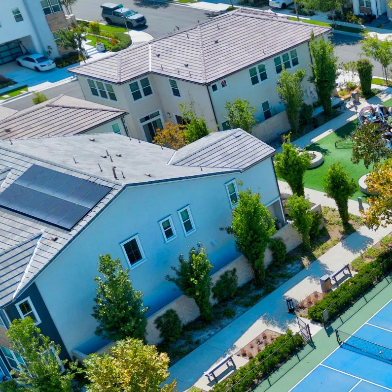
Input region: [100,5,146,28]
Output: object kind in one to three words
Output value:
truck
